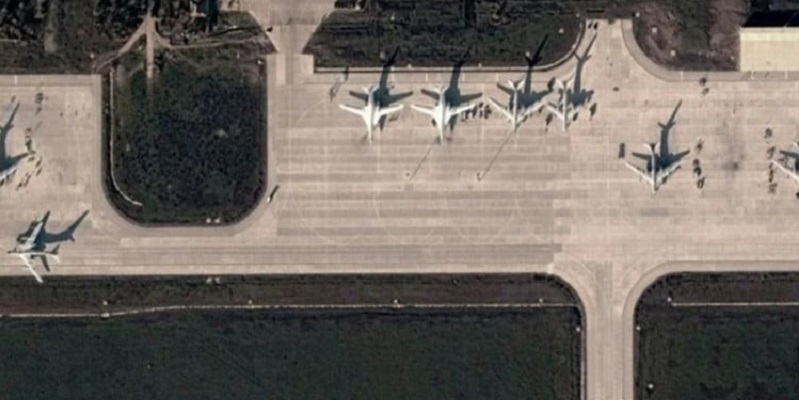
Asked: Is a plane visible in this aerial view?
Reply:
Yes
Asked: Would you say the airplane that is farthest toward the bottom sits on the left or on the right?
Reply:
left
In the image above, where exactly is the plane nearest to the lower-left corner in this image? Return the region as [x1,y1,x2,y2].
[9,221,61,281]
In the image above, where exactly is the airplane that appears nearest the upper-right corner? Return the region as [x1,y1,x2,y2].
[772,141,799,192]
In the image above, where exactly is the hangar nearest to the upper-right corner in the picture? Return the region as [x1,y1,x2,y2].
[740,26,799,71]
